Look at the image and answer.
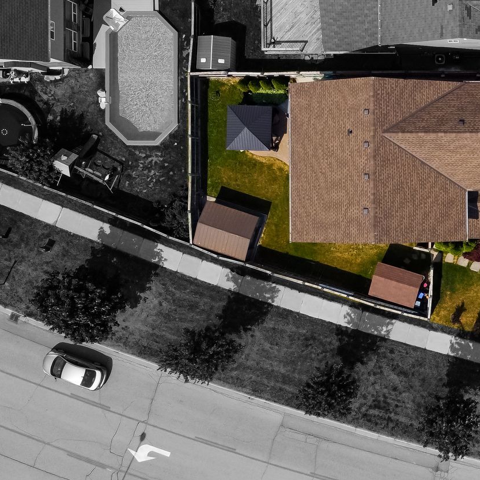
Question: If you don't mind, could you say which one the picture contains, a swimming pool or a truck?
swimming pool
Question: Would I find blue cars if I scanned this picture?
No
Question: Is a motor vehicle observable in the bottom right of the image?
No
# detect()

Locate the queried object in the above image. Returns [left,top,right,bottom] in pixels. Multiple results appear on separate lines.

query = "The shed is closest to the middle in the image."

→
[194,201,264,261]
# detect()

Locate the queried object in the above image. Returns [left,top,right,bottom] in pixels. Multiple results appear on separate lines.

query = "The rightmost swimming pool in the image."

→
[106,11,184,145]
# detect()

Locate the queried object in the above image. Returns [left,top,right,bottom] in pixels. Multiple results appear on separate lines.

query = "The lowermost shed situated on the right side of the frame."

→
[369,263,426,308]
